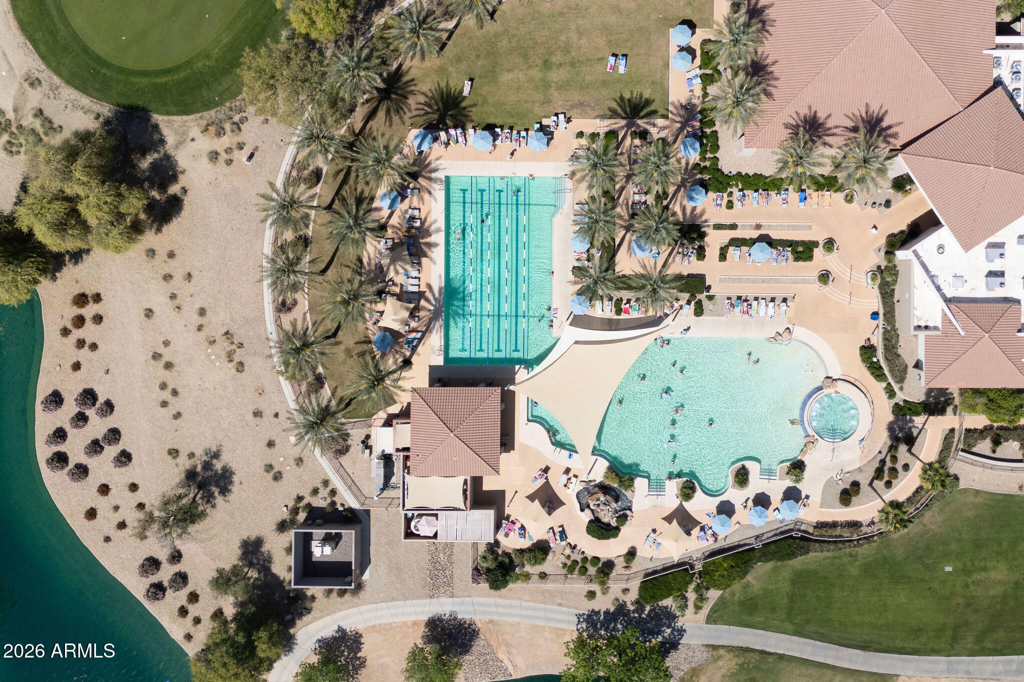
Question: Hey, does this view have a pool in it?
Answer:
Yes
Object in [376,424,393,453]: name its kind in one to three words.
shed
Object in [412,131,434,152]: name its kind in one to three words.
umbrella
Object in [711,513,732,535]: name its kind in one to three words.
umbrella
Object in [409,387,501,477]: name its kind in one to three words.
building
